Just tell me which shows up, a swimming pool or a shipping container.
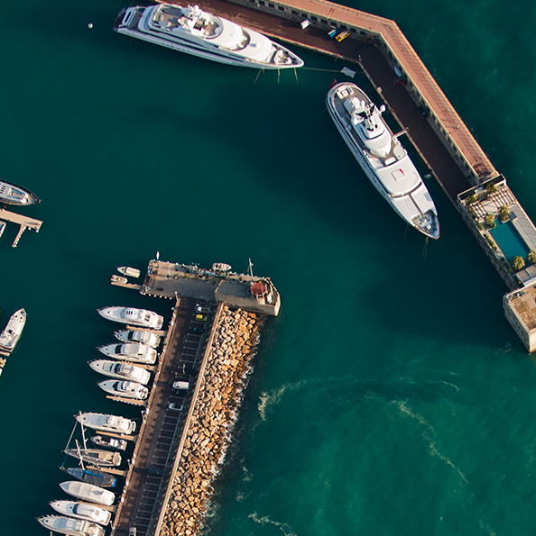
swimming pool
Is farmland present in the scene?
No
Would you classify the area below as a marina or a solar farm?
marina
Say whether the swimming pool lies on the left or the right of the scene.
right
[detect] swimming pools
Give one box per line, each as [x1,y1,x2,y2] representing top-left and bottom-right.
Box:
[490,220,531,269]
